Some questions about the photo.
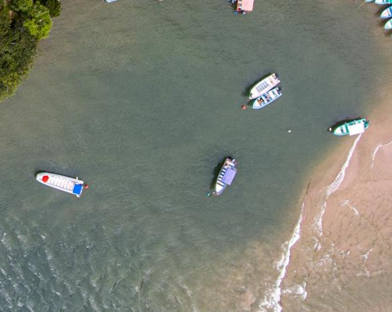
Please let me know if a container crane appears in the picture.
No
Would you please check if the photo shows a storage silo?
No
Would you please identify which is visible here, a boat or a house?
boat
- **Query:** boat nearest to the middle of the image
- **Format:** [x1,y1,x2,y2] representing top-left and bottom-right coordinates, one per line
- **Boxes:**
[215,157,237,196]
